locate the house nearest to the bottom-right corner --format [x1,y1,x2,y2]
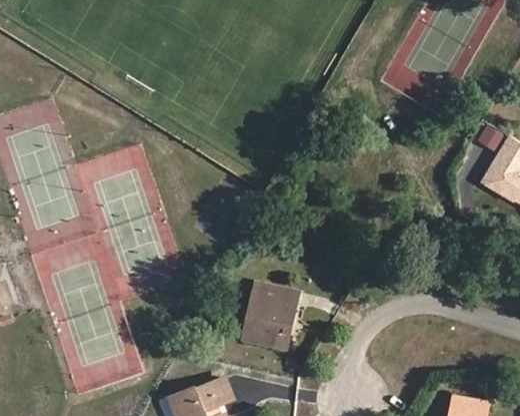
[449,394,490,416]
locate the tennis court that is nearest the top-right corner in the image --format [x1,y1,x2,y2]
[381,0,507,114]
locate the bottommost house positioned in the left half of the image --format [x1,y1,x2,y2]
[166,377,240,416]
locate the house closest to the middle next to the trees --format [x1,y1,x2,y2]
[240,279,304,352]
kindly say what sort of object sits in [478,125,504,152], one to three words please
shed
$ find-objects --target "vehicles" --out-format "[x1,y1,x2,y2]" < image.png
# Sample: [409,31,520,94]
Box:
[388,395,406,407]
[381,113,397,130]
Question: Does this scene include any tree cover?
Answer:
Yes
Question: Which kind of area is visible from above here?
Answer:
sports ground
